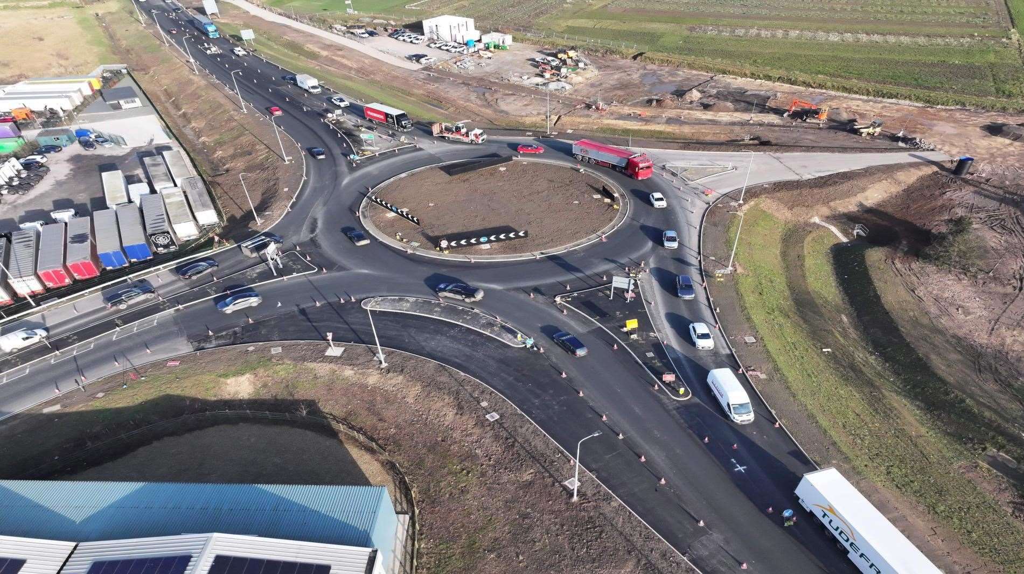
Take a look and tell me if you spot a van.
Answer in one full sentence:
Yes, there's a van here.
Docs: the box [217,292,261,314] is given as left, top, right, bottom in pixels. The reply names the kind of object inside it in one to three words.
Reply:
car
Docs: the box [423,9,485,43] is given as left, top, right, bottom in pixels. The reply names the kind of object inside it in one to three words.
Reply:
building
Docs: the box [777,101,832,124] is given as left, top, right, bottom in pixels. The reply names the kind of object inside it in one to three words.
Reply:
work vehicle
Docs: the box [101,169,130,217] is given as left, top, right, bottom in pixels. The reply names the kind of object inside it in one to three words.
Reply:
trailer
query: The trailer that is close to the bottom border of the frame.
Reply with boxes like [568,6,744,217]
[796,466,942,574]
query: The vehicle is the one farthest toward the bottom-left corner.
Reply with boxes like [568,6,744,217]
[0,326,47,352]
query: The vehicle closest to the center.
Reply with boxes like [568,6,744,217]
[438,280,481,301]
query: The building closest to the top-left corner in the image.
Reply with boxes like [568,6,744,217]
[103,83,144,111]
